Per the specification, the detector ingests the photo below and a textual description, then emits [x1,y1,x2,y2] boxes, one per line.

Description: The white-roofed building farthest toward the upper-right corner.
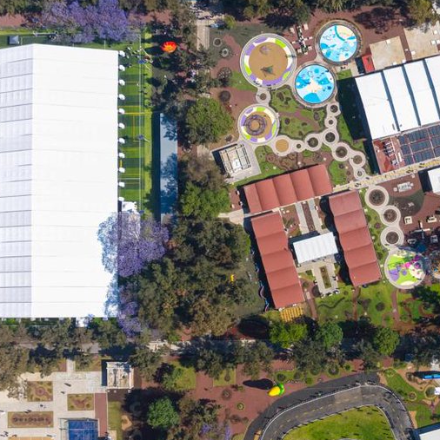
[355,56,440,176]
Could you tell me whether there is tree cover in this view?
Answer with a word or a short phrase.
Yes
